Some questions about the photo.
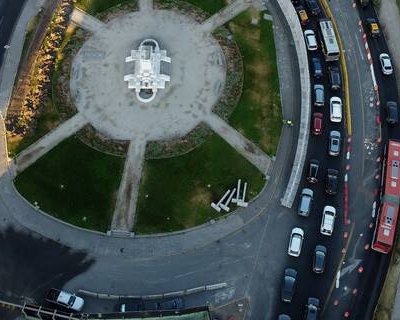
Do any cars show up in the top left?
No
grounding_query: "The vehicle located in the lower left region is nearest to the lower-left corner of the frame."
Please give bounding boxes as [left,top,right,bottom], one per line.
[45,287,84,314]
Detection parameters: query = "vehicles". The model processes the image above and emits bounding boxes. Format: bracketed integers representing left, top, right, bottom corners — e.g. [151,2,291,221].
[320,206,337,236]
[314,84,327,108]
[307,159,321,185]
[386,100,399,125]
[287,228,304,259]
[313,113,324,135]
[329,68,341,89]
[305,295,322,320]
[325,170,339,195]
[297,187,315,218]
[45,287,84,314]
[366,19,382,39]
[305,0,320,15]
[280,269,298,303]
[329,131,343,157]
[359,0,369,7]
[311,58,324,77]
[306,32,317,51]
[374,139,400,264]
[381,54,392,74]
[311,243,329,275]
[298,8,311,25]
[331,99,342,121]
[321,17,340,61]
